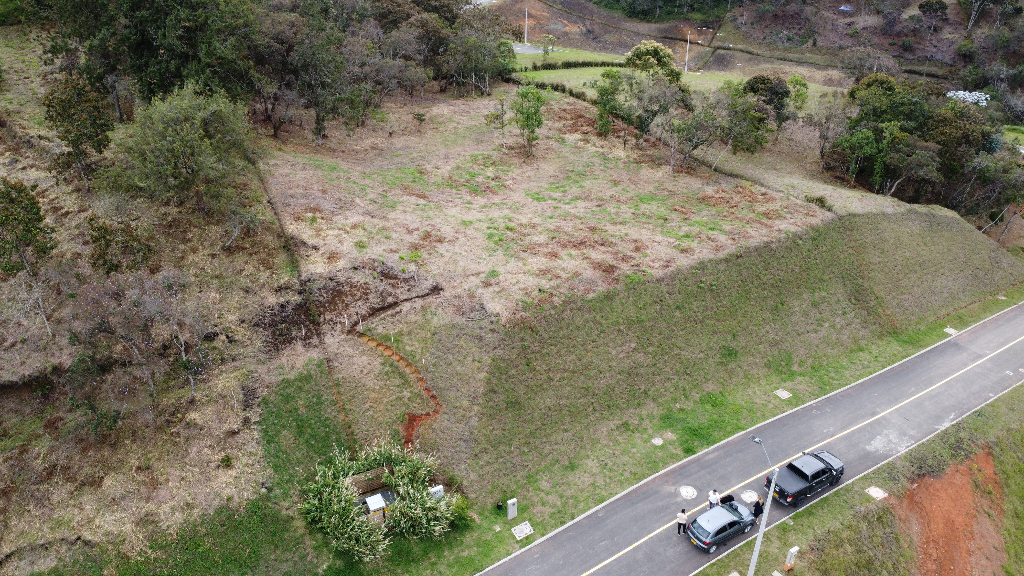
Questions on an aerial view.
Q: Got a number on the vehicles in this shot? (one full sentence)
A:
The number of vehicles here is 2.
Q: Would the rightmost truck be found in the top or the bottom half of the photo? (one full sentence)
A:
Seen from above, the rightmost truck lies in the bottom half of the view.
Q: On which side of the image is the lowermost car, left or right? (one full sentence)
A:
You can find the lowermost car on the right side of the picture.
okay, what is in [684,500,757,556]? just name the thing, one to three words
car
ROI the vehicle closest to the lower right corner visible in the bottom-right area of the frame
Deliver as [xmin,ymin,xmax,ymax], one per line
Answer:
[756,449,847,511]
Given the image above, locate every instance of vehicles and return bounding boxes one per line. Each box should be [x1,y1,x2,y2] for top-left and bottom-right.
[756,449,847,511]
[684,500,757,556]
